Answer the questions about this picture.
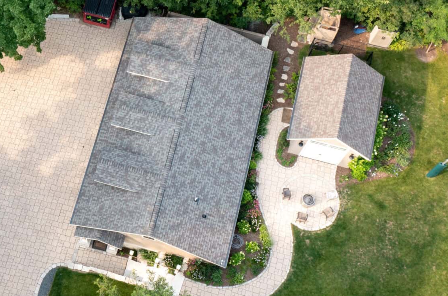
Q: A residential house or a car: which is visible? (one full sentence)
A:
The image shows a residential house.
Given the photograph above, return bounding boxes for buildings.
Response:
[284,53,386,170]
[69,17,275,269]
